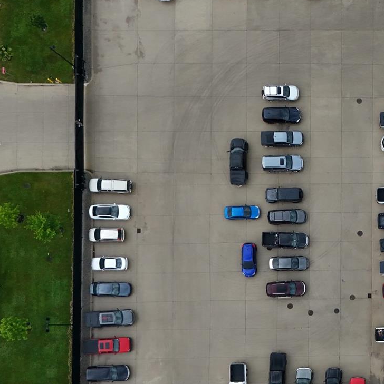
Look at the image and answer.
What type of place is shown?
parking lot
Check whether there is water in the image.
No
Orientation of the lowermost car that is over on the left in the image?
horizontally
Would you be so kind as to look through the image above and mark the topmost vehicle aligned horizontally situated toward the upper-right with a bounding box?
[260,83,301,102]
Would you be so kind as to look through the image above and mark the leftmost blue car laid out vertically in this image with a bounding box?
[241,243,258,279]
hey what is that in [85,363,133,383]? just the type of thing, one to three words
car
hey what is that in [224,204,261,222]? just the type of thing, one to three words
car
